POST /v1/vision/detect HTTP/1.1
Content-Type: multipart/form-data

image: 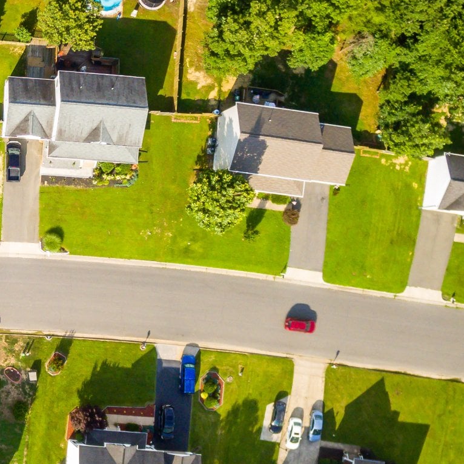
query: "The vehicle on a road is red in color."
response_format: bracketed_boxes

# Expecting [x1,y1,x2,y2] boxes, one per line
[286,318,318,335]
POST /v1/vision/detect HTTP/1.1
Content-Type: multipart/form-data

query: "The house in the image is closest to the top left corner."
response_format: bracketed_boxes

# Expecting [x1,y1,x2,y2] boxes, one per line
[2,71,149,165]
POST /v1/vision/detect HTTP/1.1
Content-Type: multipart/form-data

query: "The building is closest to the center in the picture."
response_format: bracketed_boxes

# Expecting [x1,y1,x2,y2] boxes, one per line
[215,102,355,198]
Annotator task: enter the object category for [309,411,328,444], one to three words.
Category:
car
